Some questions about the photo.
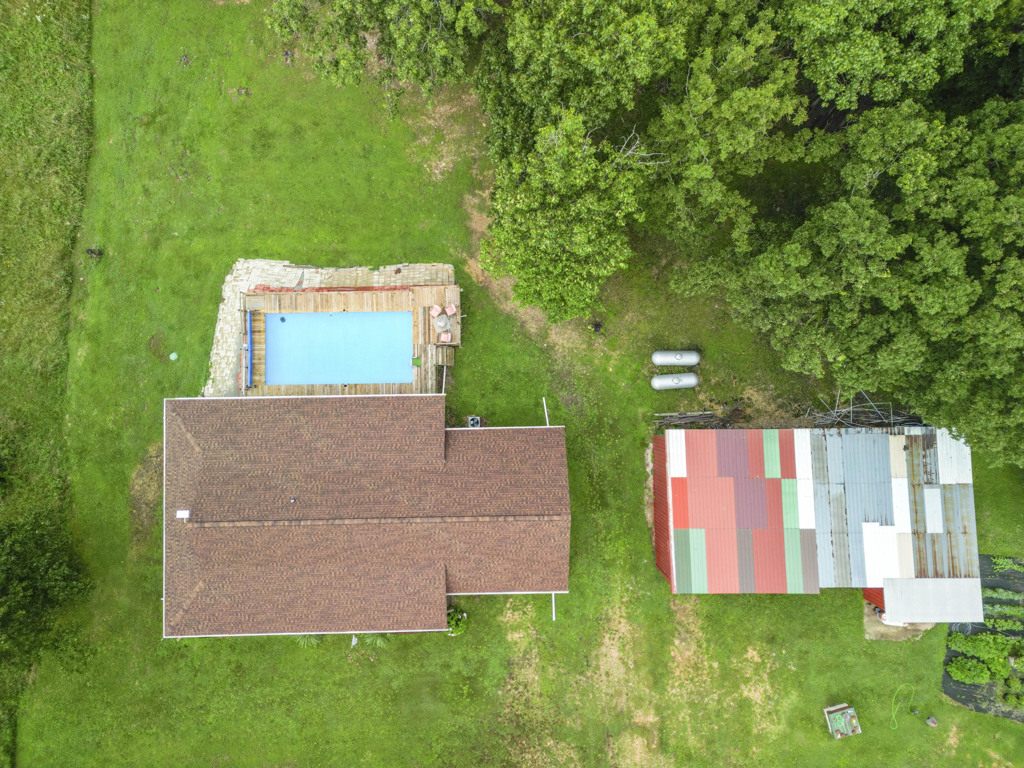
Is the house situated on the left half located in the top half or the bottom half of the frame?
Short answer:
bottom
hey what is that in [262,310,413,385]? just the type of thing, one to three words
swimming pool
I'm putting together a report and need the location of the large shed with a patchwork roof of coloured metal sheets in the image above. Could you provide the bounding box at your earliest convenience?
[652,428,983,624]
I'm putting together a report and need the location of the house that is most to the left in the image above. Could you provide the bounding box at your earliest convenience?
[162,392,570,639]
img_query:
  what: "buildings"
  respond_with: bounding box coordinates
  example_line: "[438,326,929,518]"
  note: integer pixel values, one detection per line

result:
[162,392,570,639]
[652,428,983,624]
